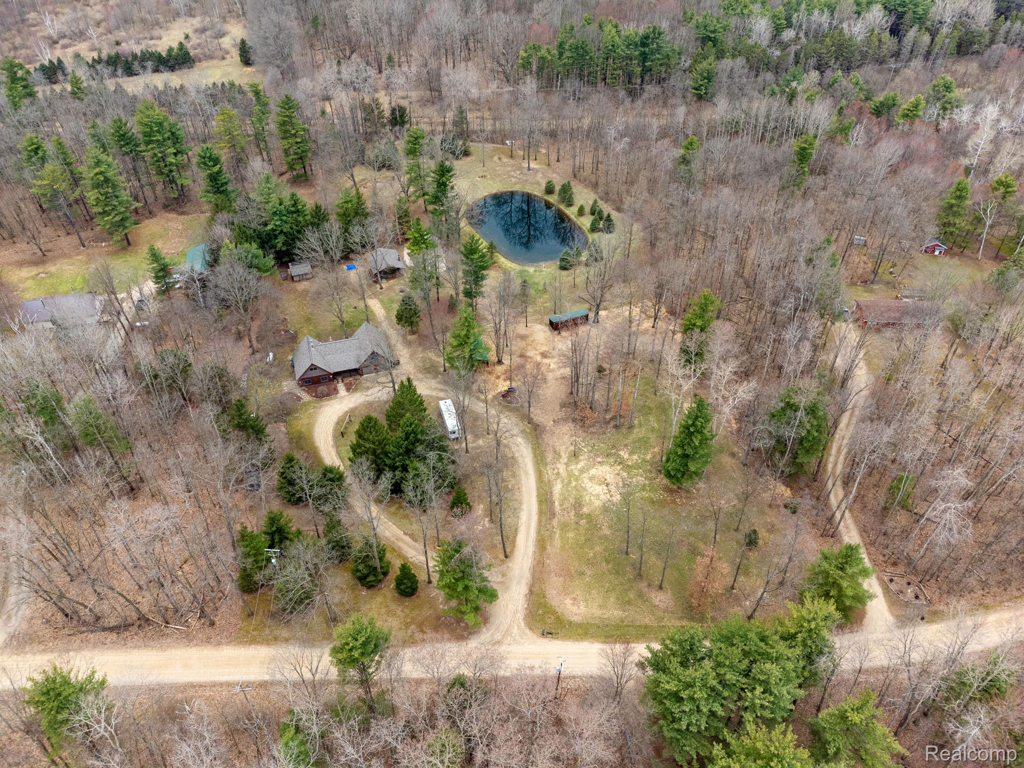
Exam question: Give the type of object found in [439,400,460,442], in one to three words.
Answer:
camper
